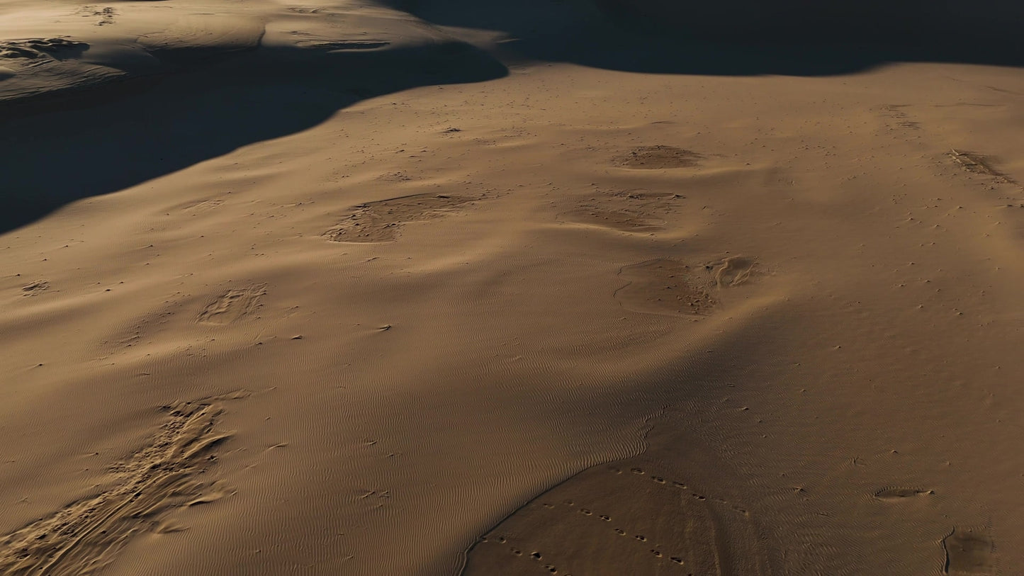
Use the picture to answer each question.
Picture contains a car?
No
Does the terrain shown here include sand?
Yes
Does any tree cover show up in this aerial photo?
No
